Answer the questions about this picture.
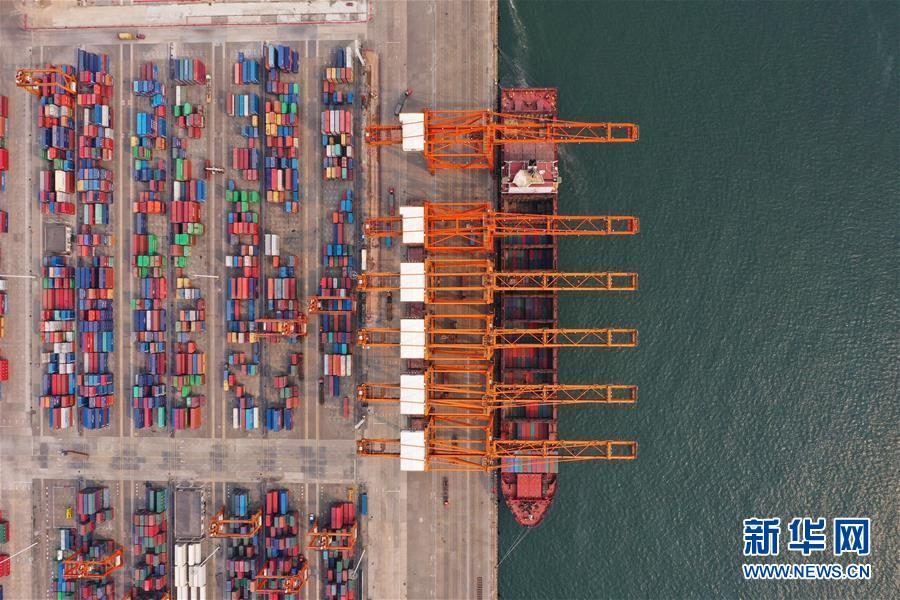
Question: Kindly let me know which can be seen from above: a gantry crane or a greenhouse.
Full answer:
This aerial view contains a gantry crane.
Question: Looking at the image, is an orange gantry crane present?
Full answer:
Yes, the image includes an orange gantry crane.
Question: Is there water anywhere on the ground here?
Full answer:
Yes, there is water in the image.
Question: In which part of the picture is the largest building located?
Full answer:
The largest building sits in the bottom left section of the image.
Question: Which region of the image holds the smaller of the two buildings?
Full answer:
The smaller of the two buildings sits in the left section of the image.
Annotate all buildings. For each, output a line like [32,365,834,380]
[45,224,71,253]
[174,483,207,538]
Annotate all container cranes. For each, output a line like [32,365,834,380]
[356,361,636,418]
[209,505,266,539]
[256,314,308,339]
[308,516,358,551]
[364,109,638,174]
[356,311,636,361]
[60,543,124,579]
[356,258,636,307]
[364,201,638,256]
[308,293,358,317]
[17,69,79,101]
[256,556,308,593]
[356,410,635,474]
